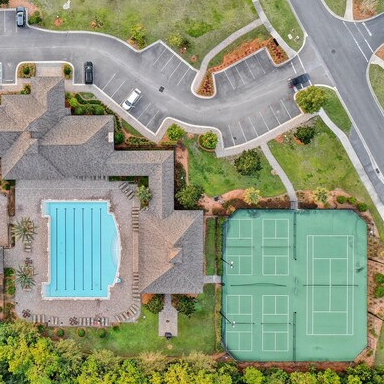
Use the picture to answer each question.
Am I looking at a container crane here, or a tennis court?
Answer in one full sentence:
Looking from above, you can make out a tennis court.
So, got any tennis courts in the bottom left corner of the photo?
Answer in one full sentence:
No, in the bottom left corner of the photo there is no tennis court.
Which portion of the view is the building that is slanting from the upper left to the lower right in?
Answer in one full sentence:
The building that is slanting from the upper left to the lower right appears toward the left of the photo.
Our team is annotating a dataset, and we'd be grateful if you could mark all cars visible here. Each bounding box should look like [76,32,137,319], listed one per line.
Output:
[288,73,310,87]
[124,88,142,109]
[16,8,25,27]
[84,63,93,85]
